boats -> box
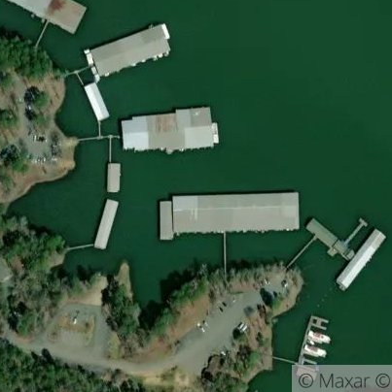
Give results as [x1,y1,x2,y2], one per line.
[309,333,329,342]
[304,346,326,356]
